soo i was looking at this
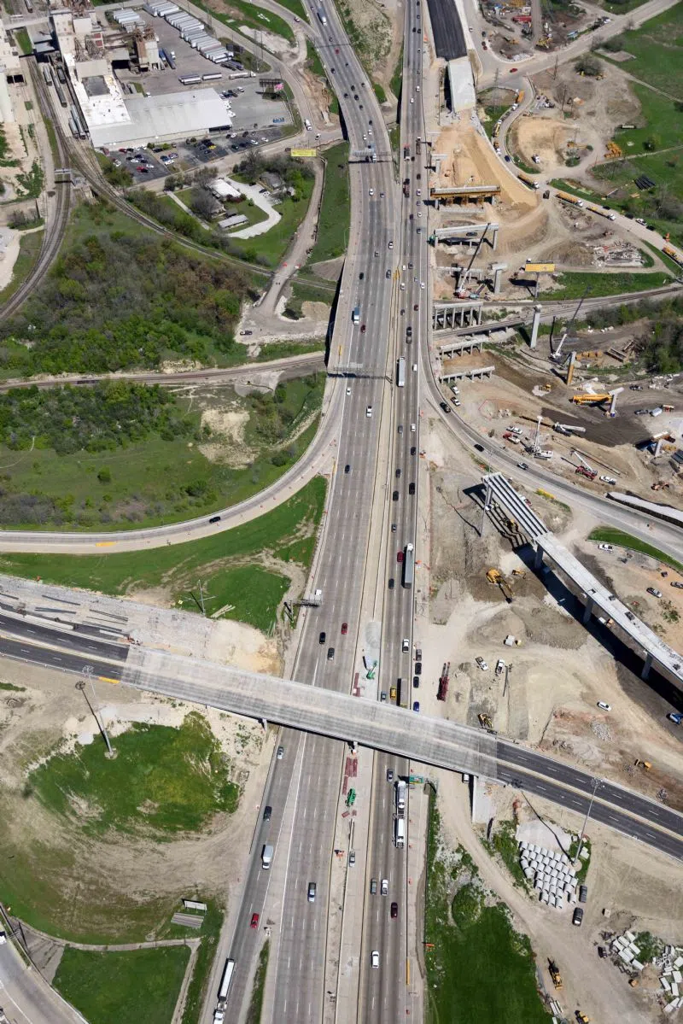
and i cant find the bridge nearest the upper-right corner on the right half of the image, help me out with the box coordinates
[427,0,476,119]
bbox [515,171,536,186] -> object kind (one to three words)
vehicle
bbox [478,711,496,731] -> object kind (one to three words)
work vehicle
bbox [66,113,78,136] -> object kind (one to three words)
rail car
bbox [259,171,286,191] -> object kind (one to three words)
house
